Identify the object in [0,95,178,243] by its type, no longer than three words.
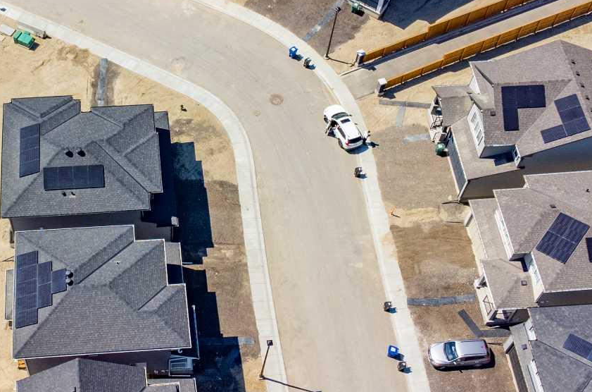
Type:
house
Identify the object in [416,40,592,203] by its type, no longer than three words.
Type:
house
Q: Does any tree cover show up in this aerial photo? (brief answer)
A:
No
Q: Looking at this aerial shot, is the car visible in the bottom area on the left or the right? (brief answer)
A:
right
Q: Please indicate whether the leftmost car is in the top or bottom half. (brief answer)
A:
top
